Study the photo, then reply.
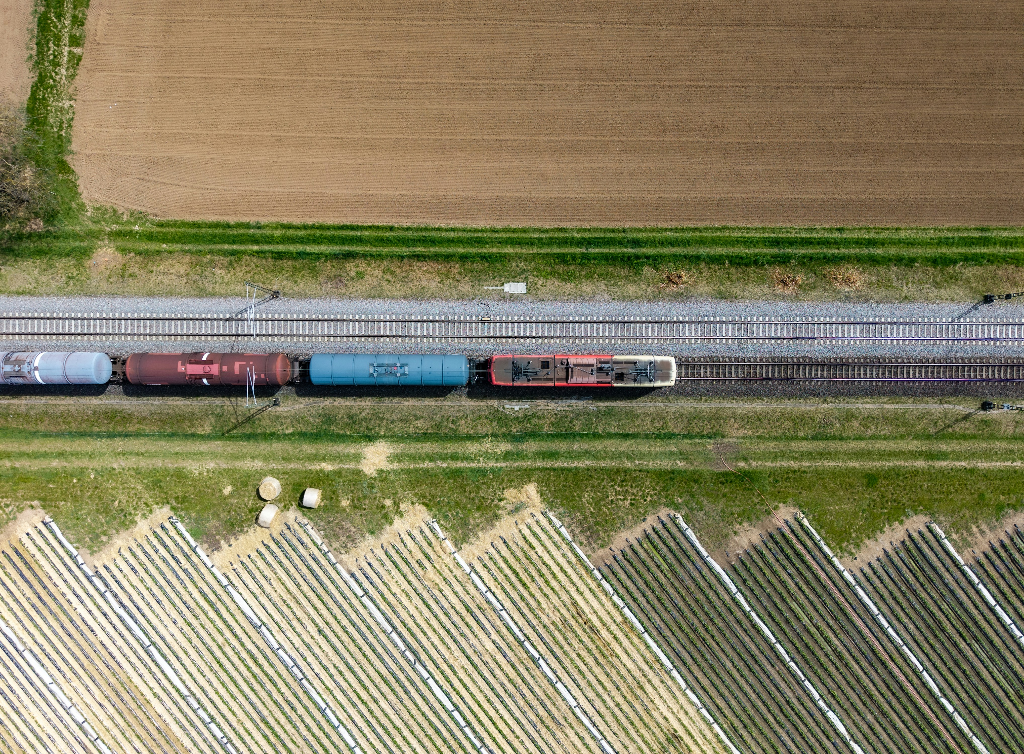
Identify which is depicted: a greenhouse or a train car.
train car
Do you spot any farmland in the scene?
Yes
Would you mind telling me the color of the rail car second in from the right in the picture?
blue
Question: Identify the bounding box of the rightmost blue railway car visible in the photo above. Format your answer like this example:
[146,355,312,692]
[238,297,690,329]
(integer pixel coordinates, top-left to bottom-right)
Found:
[303,353,483,386]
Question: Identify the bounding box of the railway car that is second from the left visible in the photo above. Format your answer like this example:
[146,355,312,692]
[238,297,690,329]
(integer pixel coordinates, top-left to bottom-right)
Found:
[123,352,307,385]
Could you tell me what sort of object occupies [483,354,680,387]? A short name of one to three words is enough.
rail car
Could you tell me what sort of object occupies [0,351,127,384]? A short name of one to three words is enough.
rail car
